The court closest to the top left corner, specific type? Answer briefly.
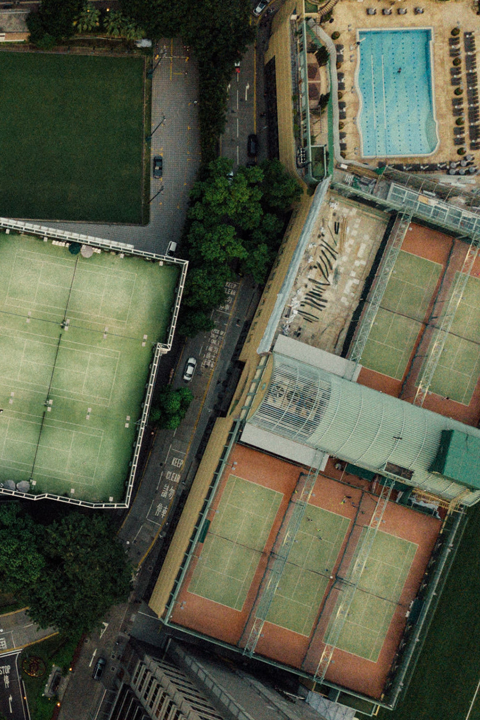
tennis court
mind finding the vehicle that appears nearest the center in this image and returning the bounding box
[182,358,196,381]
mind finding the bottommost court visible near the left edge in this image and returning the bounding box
[0,409,103,485]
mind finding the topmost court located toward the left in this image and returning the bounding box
[5,249,136,329]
